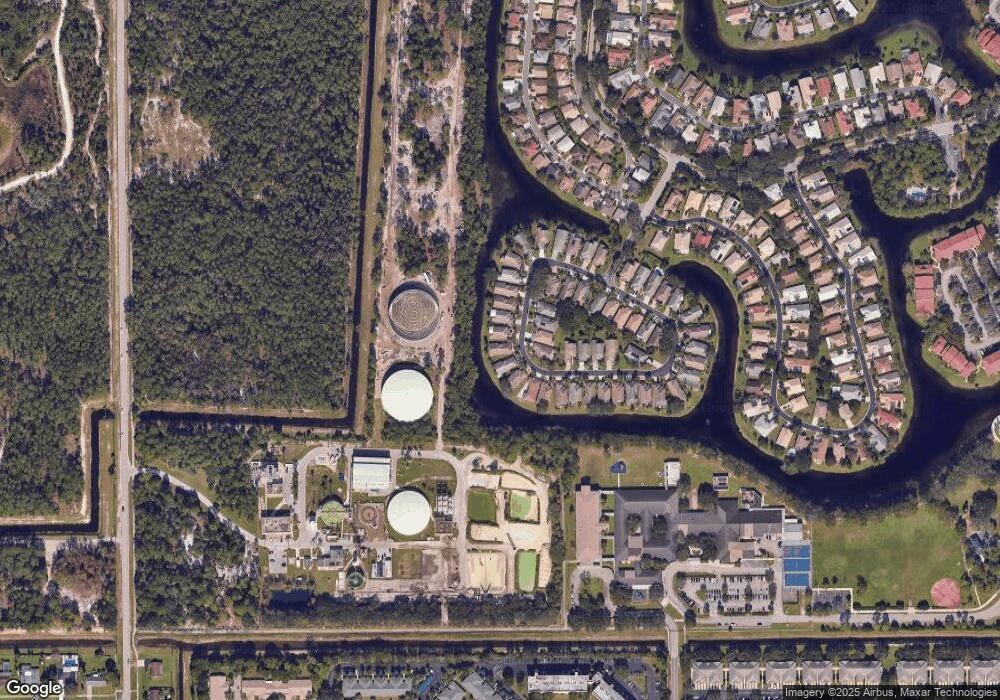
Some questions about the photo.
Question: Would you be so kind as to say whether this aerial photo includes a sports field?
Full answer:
Yes, a sports field appears in the view.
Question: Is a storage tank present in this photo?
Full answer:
Yes, the image includes a storage tank.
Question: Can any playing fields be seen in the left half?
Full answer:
No, no playing field appears in the left half.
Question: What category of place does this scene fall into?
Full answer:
The area seen from above is a residential area.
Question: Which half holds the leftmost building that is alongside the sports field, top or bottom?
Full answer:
The leftmost building that is alongside the sports field is in the bottom half of the image.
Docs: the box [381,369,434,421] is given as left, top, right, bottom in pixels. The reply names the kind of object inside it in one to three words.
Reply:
storage tank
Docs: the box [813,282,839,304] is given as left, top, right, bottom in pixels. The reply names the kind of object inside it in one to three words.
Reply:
house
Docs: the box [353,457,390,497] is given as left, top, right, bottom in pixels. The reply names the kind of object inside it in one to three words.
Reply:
shed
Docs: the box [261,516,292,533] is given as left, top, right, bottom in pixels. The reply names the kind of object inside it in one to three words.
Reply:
building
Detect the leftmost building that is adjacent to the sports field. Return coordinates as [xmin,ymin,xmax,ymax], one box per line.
[600,484,785,589]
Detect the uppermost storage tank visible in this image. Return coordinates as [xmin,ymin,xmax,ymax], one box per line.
[386,287,441,343]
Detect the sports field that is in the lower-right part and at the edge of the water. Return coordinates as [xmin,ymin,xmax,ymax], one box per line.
[813,500,978,609]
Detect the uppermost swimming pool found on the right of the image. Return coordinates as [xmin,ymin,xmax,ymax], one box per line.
[908,188,928,201]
